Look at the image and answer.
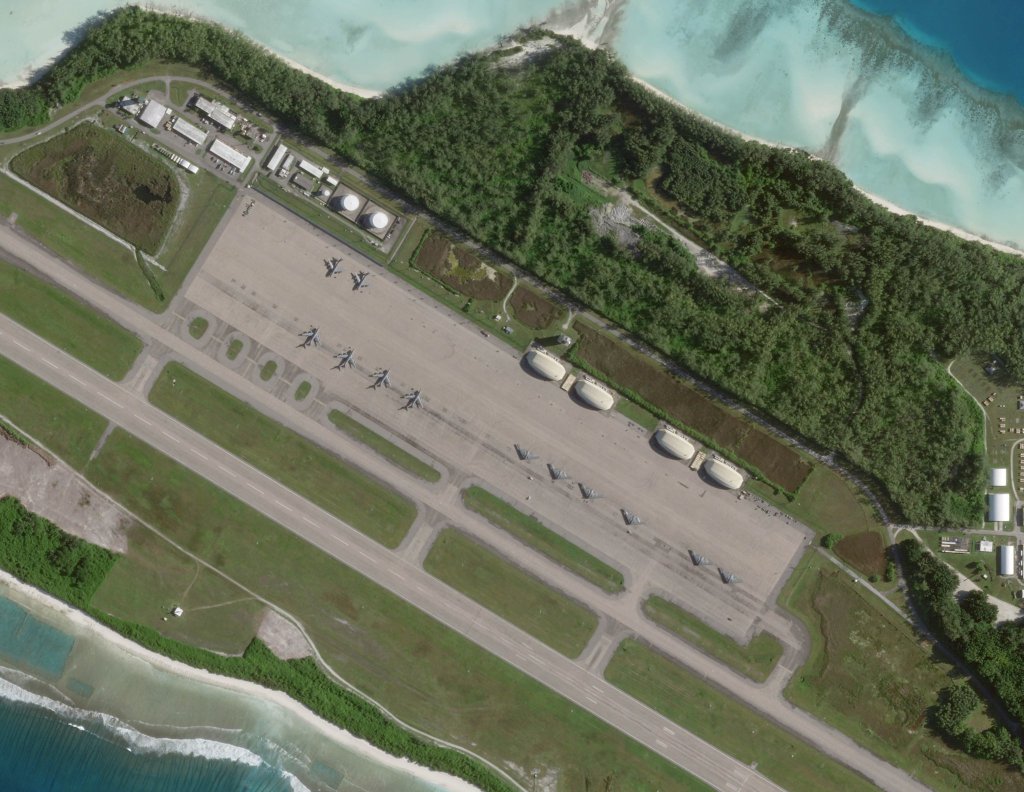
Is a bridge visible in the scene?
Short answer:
No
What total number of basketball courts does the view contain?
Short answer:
0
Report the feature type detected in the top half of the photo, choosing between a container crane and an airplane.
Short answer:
airplane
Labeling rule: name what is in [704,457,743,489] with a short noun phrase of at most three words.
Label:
hangar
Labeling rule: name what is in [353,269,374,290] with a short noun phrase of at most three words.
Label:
airplane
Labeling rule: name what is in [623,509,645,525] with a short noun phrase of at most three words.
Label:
airplane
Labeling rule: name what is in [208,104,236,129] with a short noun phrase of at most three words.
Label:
building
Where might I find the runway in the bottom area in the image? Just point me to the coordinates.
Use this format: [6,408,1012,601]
[0,313,787,792]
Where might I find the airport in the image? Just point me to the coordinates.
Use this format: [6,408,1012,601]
[0,187,938,792]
